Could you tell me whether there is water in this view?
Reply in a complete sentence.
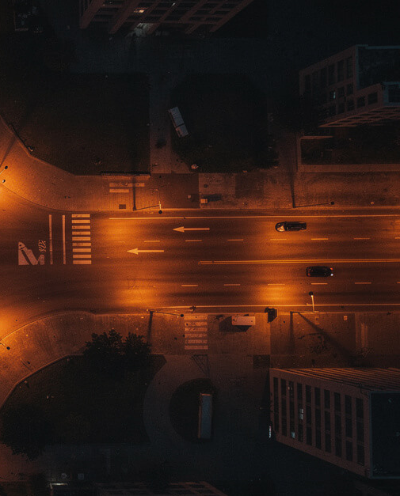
No, no water is visible.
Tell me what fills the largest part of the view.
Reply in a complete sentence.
For the most part, this view shows paved ground.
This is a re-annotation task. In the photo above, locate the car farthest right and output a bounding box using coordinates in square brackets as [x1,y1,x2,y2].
[308,265,336,278]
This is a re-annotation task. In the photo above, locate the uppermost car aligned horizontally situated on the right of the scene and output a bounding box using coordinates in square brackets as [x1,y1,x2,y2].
[276,220,309,233]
